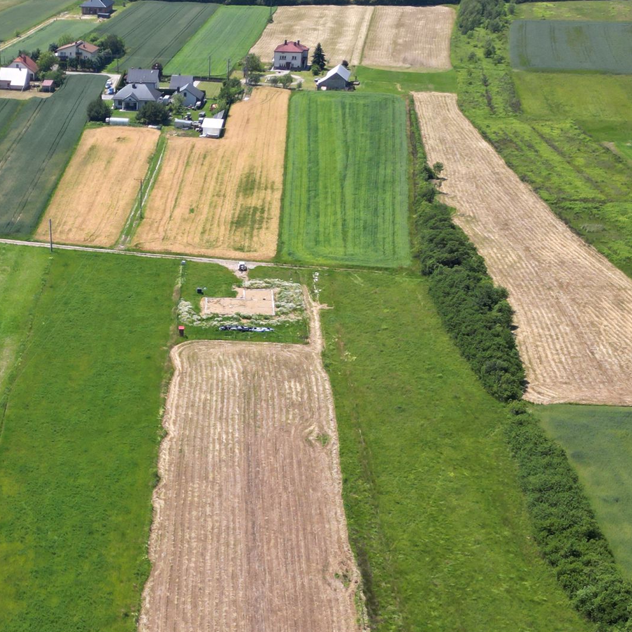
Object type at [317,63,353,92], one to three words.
barn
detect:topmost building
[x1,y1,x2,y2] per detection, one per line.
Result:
[80,0,112,14]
